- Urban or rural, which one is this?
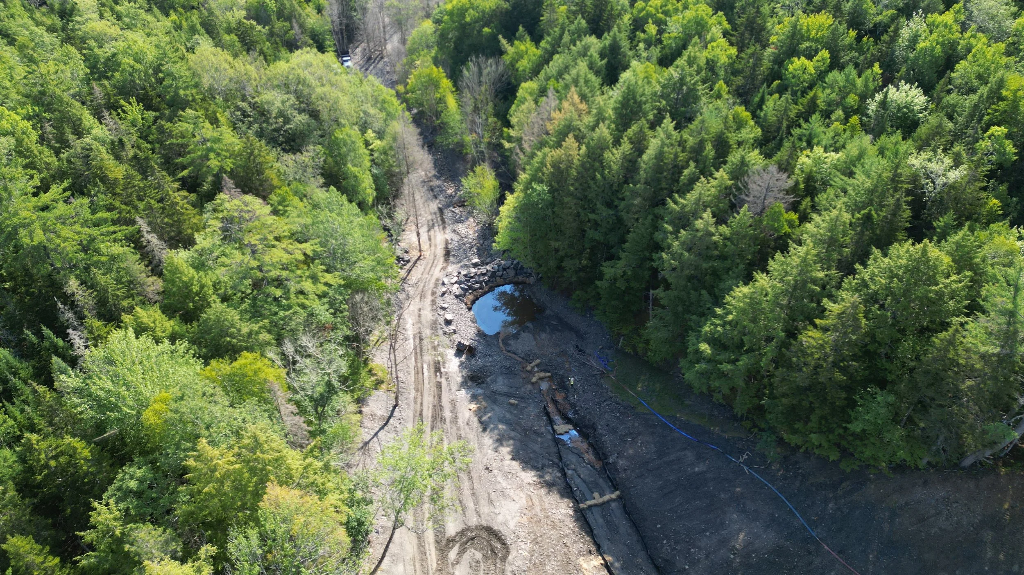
rural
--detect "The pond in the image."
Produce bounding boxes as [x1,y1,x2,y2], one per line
[470,281,549,340]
